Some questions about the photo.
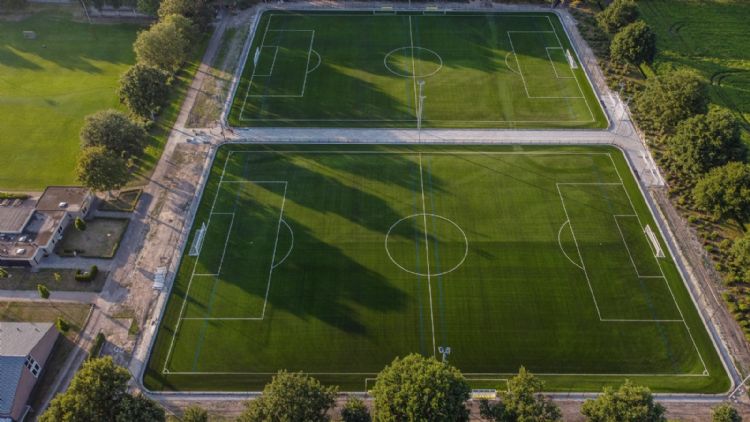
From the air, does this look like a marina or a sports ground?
sports ground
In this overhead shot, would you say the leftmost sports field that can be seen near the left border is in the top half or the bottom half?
top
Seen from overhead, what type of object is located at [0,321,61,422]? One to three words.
building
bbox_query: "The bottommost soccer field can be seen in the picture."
[141,142,732,397]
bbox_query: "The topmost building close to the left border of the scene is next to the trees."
[0,187,94,270]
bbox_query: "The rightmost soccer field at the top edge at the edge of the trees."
[224,8,609,130]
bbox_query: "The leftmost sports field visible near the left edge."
[0,14,212,187]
